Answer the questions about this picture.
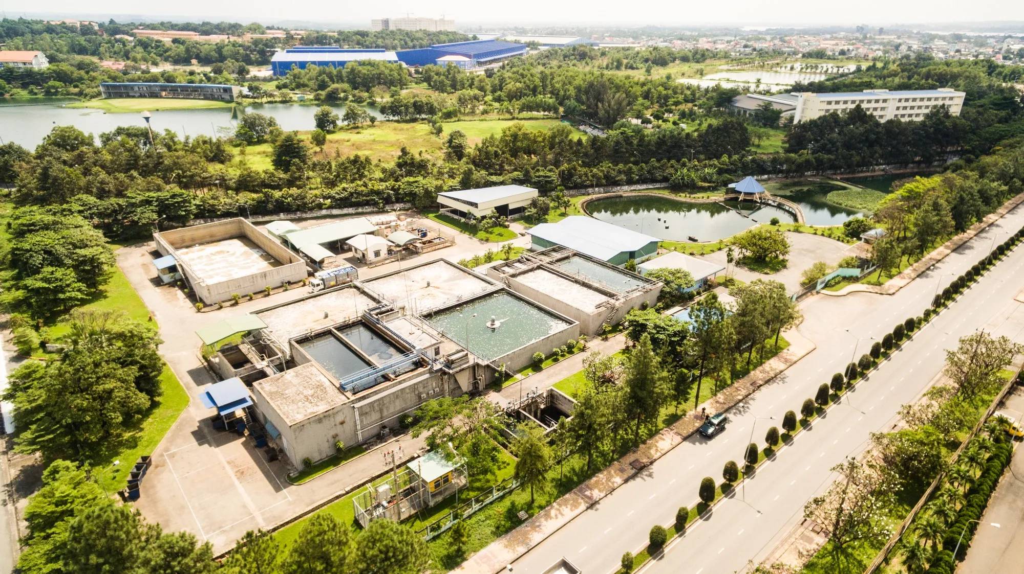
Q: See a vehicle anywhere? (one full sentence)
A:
Yes, there is a vehicle in the image.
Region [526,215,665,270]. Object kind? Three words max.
shed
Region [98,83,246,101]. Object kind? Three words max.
building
